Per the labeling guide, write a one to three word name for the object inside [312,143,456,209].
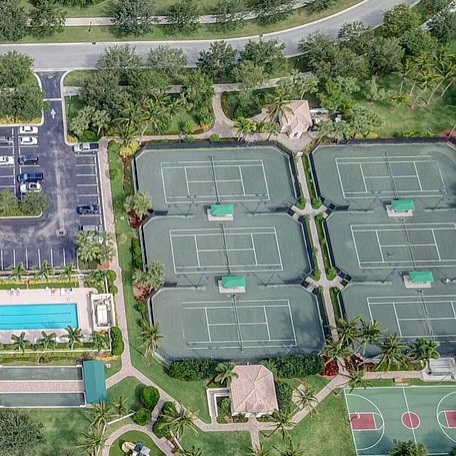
tennis court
